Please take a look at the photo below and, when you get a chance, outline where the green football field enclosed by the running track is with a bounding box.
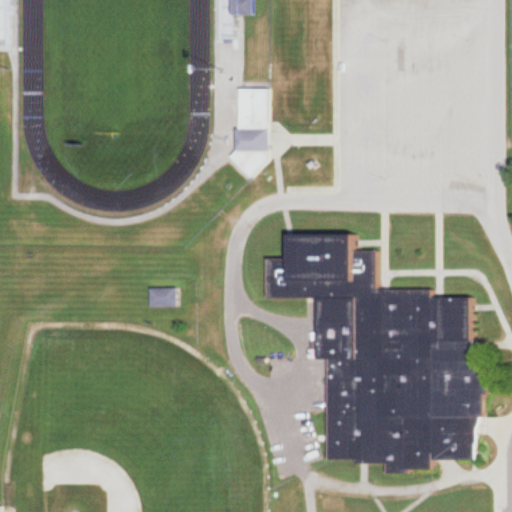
[43,0,190,191]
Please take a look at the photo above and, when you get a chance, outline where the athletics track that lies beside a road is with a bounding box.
[23,0,210,210]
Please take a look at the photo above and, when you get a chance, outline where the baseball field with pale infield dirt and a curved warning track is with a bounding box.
[2,322,270,512]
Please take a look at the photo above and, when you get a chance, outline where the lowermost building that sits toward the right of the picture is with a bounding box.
[264,234,486,473]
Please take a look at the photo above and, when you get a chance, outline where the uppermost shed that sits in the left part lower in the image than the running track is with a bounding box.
[149,288,179,308]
